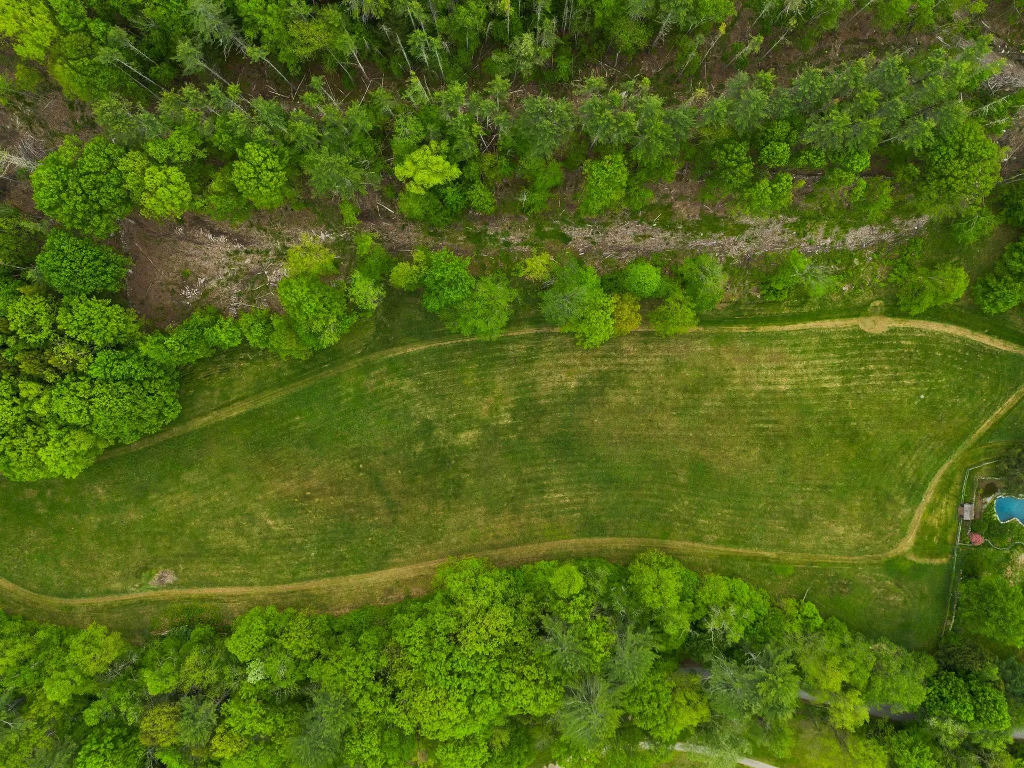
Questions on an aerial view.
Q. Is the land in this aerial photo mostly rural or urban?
rural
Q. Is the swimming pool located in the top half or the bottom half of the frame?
bottom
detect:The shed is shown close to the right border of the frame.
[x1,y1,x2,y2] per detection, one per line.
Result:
[958,505,979,523]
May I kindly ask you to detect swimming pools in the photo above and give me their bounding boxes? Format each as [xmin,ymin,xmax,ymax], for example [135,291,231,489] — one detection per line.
[994,495,1024,526]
